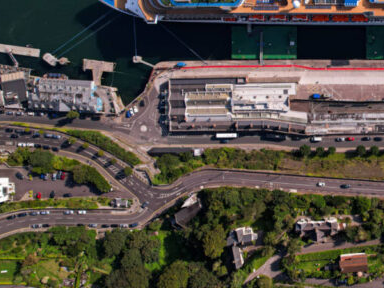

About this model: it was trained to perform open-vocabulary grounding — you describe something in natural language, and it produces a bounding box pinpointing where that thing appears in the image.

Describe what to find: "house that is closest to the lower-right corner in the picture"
[340,253,368,271]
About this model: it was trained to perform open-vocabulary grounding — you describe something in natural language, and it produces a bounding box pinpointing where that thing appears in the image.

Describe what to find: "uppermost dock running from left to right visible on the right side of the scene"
[232,28,298,59]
